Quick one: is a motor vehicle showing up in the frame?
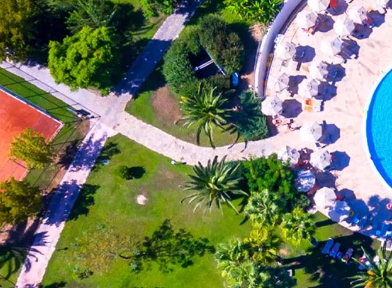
No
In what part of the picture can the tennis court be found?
left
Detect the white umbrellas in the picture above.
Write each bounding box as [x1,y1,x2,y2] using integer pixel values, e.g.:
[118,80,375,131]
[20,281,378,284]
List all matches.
[370,0,388,7]
[276,146,301,169]
[295,10,317,31]
[276,42,298,63]
[296,78,320,103]
[331,17,353,38]
[315,185,338,206]
[309,151,331,173]
[298,120,322,142]
[348,3,370,25]
[264,98,285,118]
[272,71,293,90]
[322,36,345,58]
[311,63,331,83]
[307,0,327,12]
